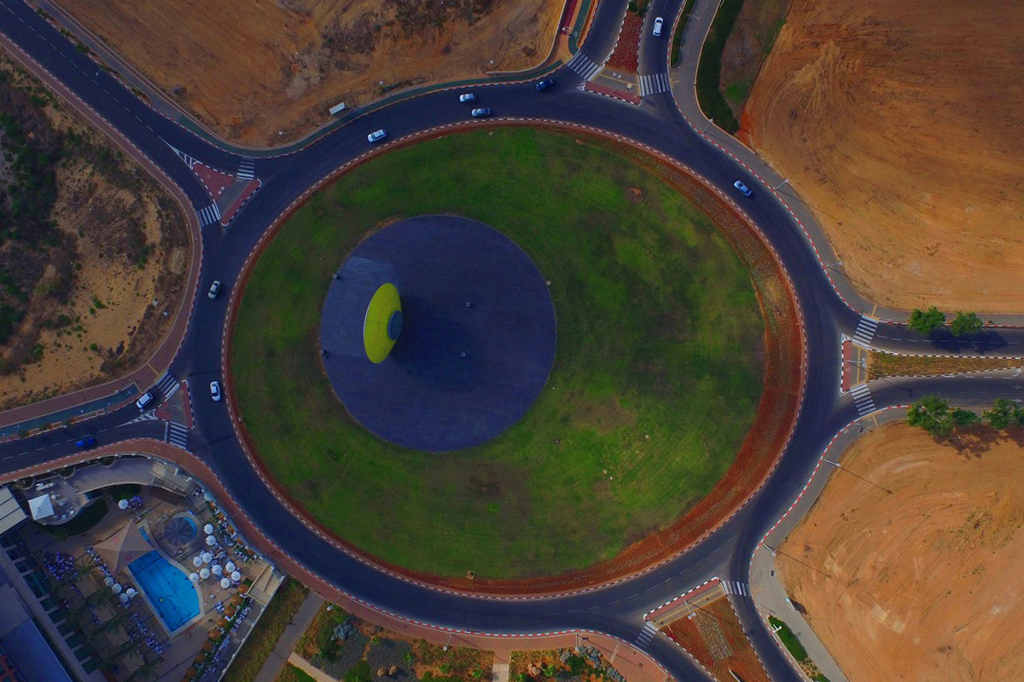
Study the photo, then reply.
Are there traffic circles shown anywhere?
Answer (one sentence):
Yes, a traffic circle appears in the view.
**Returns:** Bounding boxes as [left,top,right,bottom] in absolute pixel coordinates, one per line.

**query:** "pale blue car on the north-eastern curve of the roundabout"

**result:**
[735,180,752,196]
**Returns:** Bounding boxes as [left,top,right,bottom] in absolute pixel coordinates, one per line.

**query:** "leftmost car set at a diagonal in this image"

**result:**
[135,392,153,407]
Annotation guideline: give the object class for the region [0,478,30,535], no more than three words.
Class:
building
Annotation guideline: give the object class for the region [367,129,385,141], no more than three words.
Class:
vehicle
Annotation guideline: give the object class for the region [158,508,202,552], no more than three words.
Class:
swimming pool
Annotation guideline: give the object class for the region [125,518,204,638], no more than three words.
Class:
swimming pool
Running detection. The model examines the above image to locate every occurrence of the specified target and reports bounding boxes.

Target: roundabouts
[180,75,848,636]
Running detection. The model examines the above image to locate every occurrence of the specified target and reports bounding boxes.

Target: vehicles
[210,382,220,400]
[654,17,663,35]
[472,107,490,116]
[208,281,219,298]
[735,180,752,196]
[458,92,477,101]
[75,438,93,448]
[135,392,153,407]
[367,129,385,141]
[536,78,554,90]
